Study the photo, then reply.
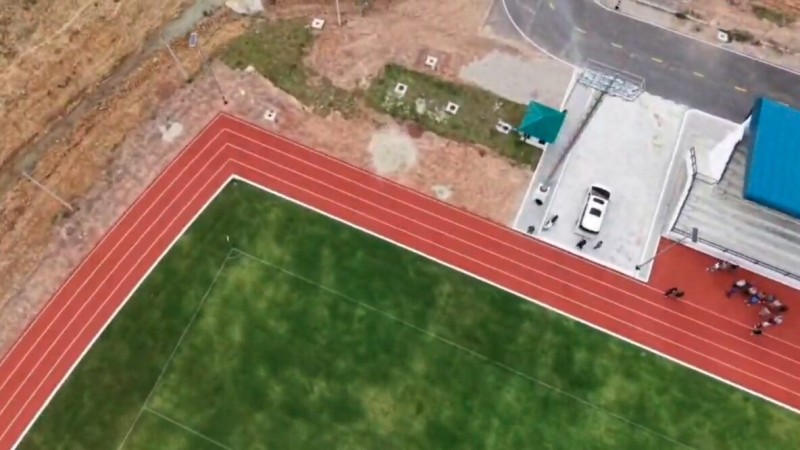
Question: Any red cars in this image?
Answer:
No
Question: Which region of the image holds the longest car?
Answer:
right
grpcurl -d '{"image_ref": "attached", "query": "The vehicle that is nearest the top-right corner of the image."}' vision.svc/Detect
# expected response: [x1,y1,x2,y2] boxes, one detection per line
[576,186,611,240]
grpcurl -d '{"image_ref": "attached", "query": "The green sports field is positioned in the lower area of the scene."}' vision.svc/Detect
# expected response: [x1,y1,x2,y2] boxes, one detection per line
[12,177,800,450]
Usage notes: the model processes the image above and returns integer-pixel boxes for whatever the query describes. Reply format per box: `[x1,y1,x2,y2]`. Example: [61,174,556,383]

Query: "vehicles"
[541,214,557,230]
[576,186,611,240]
